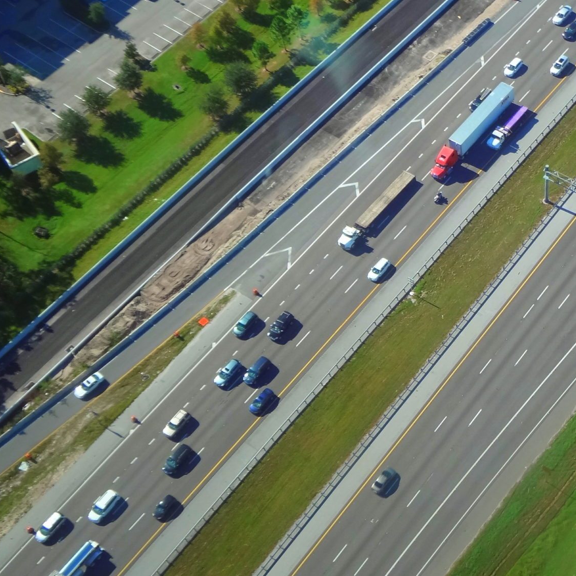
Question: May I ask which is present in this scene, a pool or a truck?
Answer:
truck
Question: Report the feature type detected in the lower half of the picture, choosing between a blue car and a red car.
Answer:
blue car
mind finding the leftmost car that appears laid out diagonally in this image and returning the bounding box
[35,510,69,545]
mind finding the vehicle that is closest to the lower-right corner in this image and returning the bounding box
[369,466,400,500]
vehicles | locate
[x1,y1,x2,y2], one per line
[367,256,393,283]
[161,442,195,476]
[468,80,495,111]
[336,156,428,251]
[265,307,299,343]
[213,359,242,389]
[241,354,273,387]
[151,493,182,525]
[486,105,532,153]
[71,375,108,399]
[550,54,571,76]
[162,408,193,440]
[87,487,123,524]
[369,466,400,500]
[504,58,525,78]
[429,79,516,182]
[232,310,261,339]
[48,529,108,576]
[554,5,575,25]
[249,388,277,416]
[35,510,69,545]
[563,20,576,41]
